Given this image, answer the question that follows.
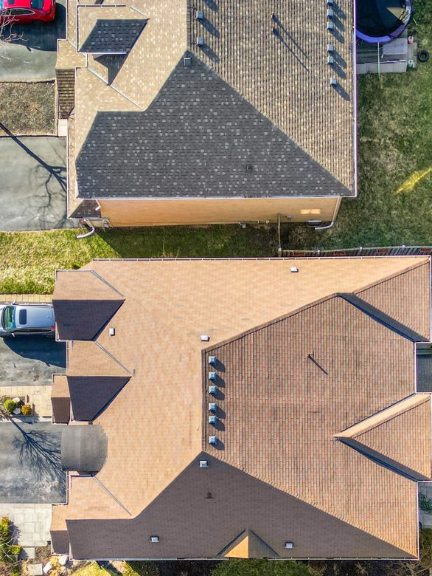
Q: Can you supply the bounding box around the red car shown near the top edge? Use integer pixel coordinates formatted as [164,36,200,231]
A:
[0,0,54,30]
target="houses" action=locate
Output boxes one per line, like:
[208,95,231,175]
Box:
[50,255,432,561]
[54,0,356,237]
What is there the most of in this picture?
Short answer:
buildings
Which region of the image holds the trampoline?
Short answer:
top right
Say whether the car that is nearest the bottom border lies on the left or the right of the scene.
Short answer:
left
